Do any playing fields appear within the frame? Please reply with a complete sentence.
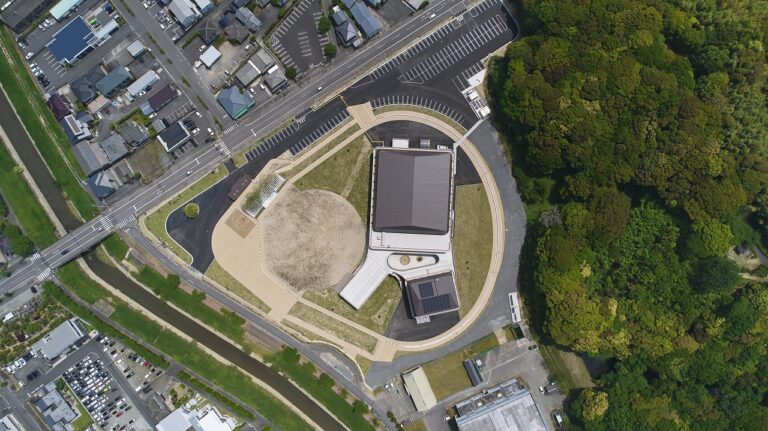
Yes, a playing field can be made out from above.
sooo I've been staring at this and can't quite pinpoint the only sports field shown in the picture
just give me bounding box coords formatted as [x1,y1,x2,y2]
[262,189,367,292]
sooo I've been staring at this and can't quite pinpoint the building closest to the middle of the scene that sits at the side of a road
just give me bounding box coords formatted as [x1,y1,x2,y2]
[370,147,454,238]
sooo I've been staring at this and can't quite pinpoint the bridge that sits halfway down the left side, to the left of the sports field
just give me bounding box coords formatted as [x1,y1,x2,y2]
[37,212,118,272]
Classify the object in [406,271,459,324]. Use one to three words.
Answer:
building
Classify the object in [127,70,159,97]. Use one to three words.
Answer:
building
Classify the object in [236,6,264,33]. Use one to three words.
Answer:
house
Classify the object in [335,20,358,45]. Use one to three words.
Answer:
house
